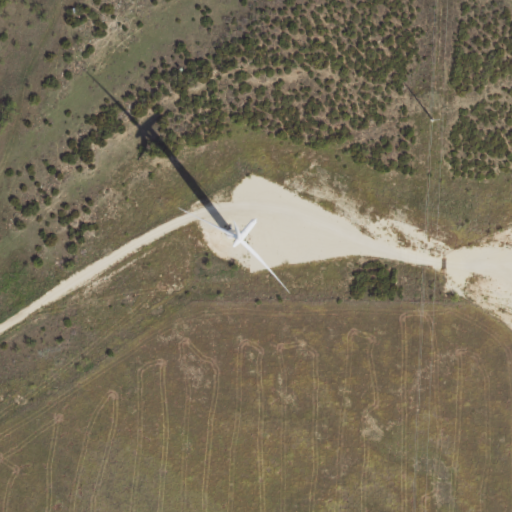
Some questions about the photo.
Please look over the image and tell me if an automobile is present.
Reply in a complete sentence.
No, no automobile is visible in the view.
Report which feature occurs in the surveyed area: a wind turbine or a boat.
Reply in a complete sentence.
This aerial view contains a wind turbine.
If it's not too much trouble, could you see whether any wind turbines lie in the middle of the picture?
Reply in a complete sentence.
Yes, looking in the middle of the picture, one can make out a wind turbine.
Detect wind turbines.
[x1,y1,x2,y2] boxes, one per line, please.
[186,208,293,288]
